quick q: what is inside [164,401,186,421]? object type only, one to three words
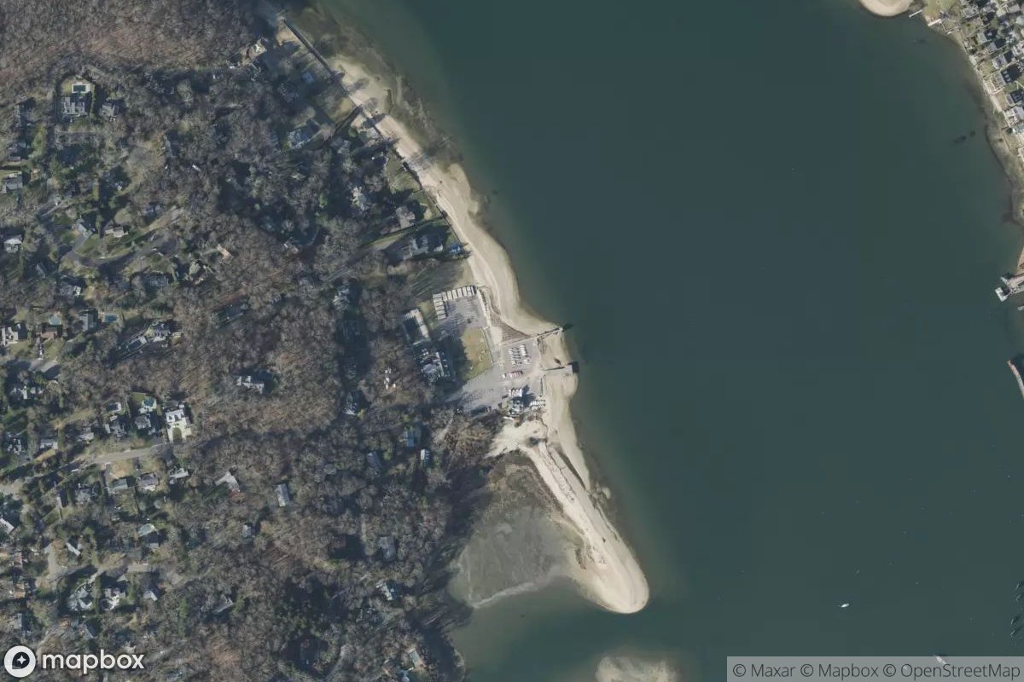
house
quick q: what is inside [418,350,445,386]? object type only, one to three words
building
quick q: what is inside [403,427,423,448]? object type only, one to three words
house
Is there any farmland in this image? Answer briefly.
No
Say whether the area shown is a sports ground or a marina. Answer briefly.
marina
